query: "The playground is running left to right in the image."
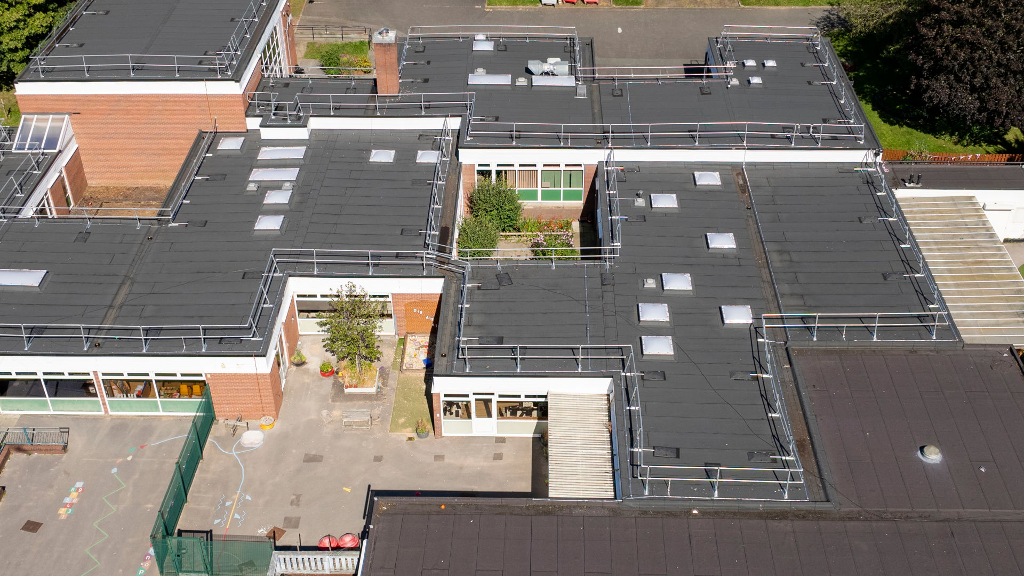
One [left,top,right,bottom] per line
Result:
[0,333,562,576]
